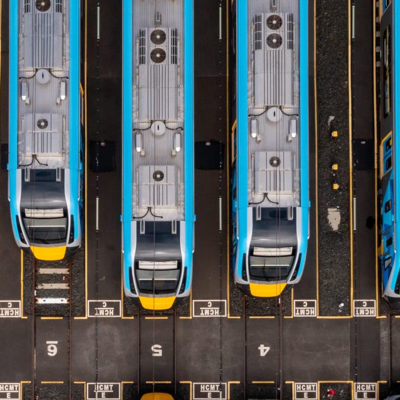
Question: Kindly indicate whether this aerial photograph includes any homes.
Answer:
No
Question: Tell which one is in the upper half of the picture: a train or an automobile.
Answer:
train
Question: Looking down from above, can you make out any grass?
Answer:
No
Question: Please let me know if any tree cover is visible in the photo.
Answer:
No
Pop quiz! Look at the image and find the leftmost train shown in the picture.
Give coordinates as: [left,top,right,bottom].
[7,0,87,262]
